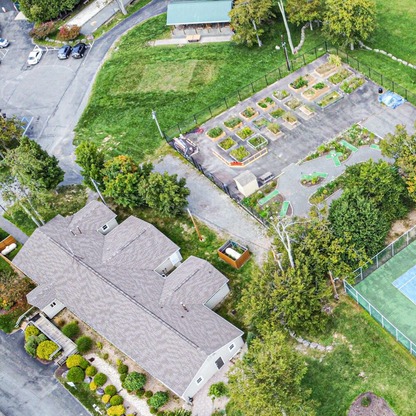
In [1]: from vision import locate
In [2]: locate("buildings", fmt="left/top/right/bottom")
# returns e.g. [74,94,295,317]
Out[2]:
[11,201,246,403]
[231,171,258,196]
[167,0,239,33]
